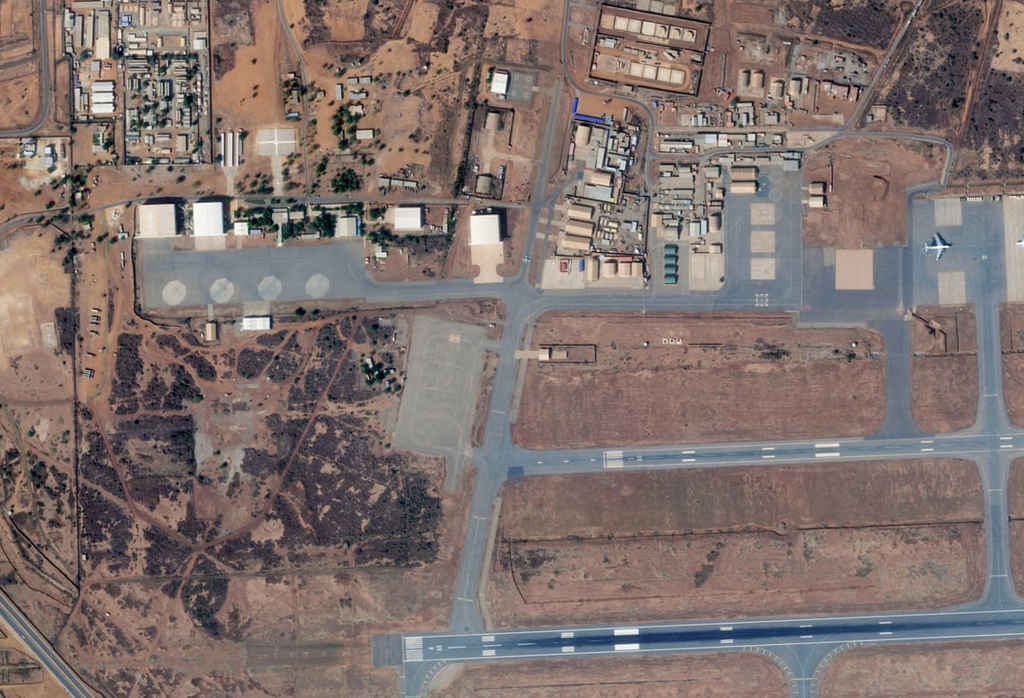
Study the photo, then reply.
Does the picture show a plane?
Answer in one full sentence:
Yes, a plane is visible in the scene.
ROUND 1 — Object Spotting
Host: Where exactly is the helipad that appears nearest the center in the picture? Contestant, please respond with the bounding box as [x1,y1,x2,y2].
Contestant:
[305,275,329,299]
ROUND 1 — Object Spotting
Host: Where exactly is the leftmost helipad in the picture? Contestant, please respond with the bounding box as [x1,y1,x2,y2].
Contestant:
[162,280,187,304]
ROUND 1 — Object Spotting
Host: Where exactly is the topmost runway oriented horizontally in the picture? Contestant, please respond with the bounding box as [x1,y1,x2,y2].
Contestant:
[503,429,1024,476]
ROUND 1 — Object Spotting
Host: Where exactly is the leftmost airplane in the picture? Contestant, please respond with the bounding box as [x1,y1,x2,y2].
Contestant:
[925,233,949,261]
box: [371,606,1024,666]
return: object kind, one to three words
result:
runway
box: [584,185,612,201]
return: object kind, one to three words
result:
hangar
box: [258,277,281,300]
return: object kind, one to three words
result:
helipad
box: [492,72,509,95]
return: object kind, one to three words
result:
building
